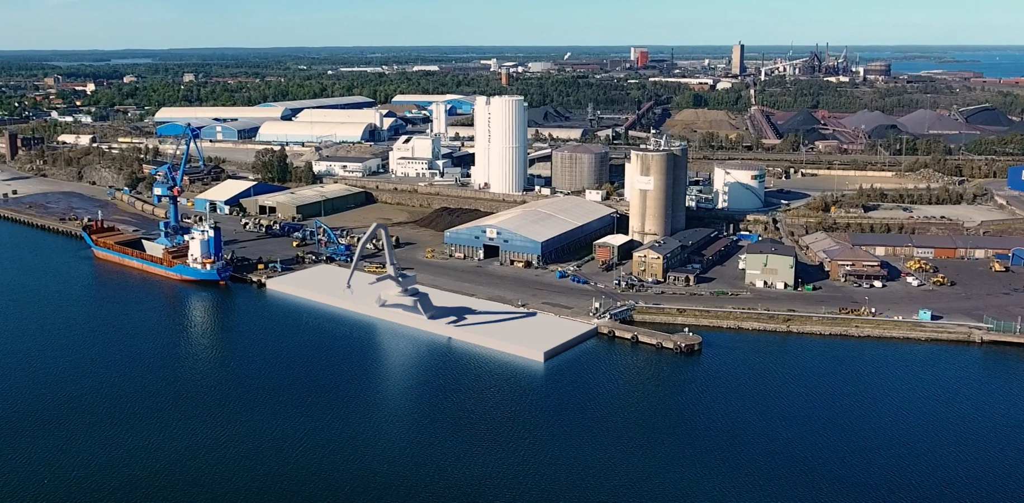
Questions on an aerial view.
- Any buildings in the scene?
Yes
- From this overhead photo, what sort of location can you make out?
port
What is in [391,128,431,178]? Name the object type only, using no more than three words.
building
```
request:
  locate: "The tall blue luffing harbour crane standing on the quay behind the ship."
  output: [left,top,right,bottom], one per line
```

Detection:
[146,121,205,243]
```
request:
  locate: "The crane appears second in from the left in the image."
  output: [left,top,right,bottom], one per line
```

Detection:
[314,219,354,263]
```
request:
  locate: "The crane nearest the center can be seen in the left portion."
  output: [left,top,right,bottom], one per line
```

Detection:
[344,221,443,319]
